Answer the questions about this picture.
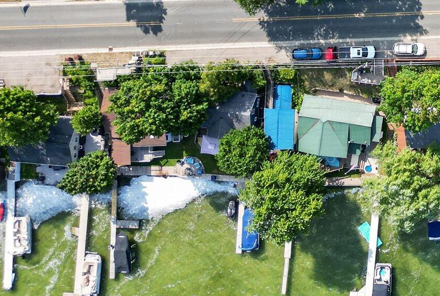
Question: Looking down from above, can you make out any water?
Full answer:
Yes, water shows up in the scene.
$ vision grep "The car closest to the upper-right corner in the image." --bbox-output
[393,42,425,56]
